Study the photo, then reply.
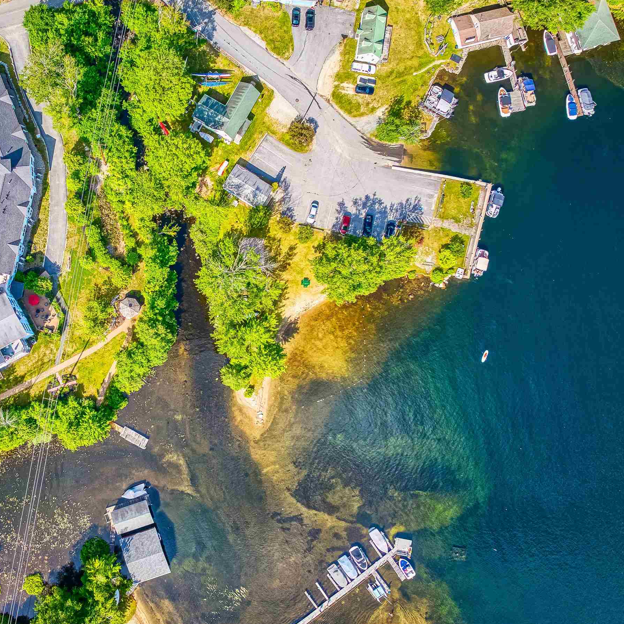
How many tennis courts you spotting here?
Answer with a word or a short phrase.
0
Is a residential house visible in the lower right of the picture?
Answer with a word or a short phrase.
No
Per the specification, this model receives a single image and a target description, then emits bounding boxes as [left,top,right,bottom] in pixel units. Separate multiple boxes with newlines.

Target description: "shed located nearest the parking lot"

[223,163,271,207]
